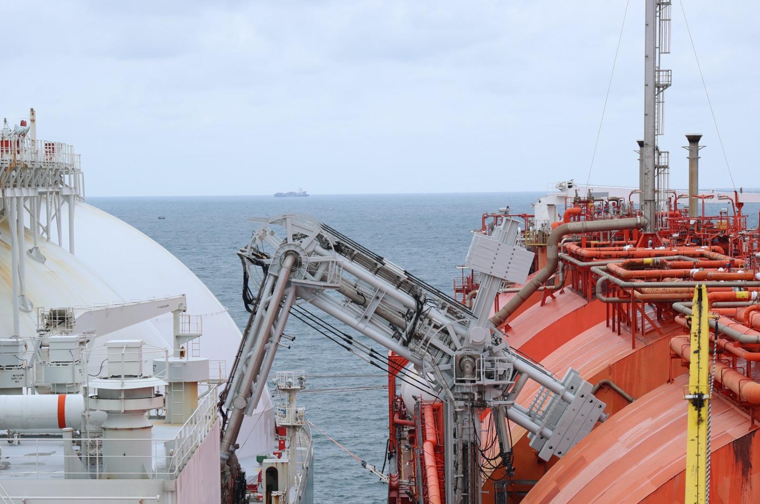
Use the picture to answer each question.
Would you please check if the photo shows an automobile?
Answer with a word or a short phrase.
No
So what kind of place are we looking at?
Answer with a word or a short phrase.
industrial area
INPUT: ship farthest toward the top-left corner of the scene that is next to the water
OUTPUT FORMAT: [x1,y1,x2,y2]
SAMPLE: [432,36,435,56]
[274,186,309,199]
